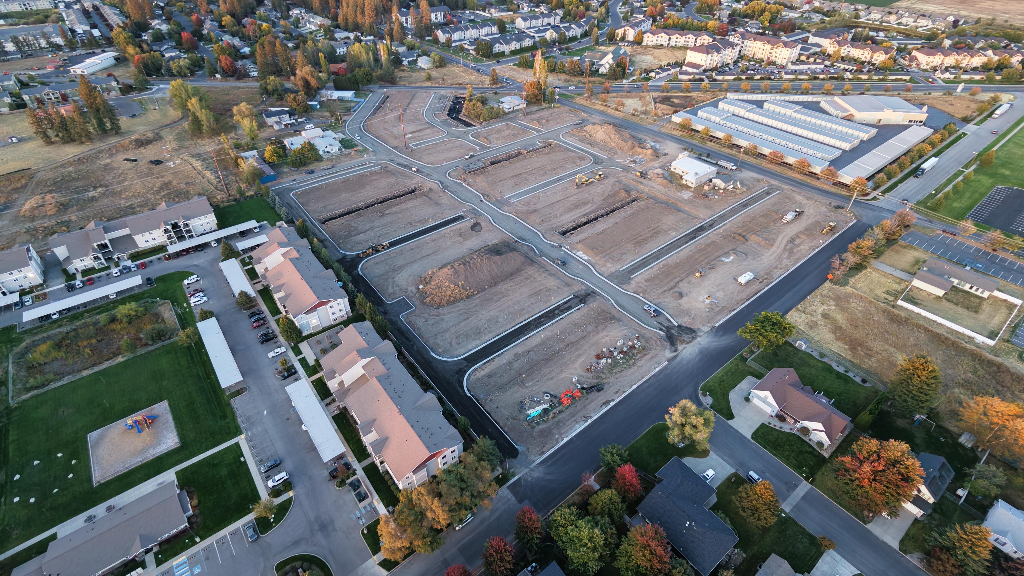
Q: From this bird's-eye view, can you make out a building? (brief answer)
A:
Yes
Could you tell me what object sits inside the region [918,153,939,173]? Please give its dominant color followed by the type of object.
white vehicle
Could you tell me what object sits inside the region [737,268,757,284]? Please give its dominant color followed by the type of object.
white vehicle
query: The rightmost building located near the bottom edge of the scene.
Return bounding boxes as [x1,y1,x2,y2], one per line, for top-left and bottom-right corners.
[982,499,1024,563]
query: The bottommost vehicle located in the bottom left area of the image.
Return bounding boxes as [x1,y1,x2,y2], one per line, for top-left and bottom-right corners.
[241,519,257,542]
